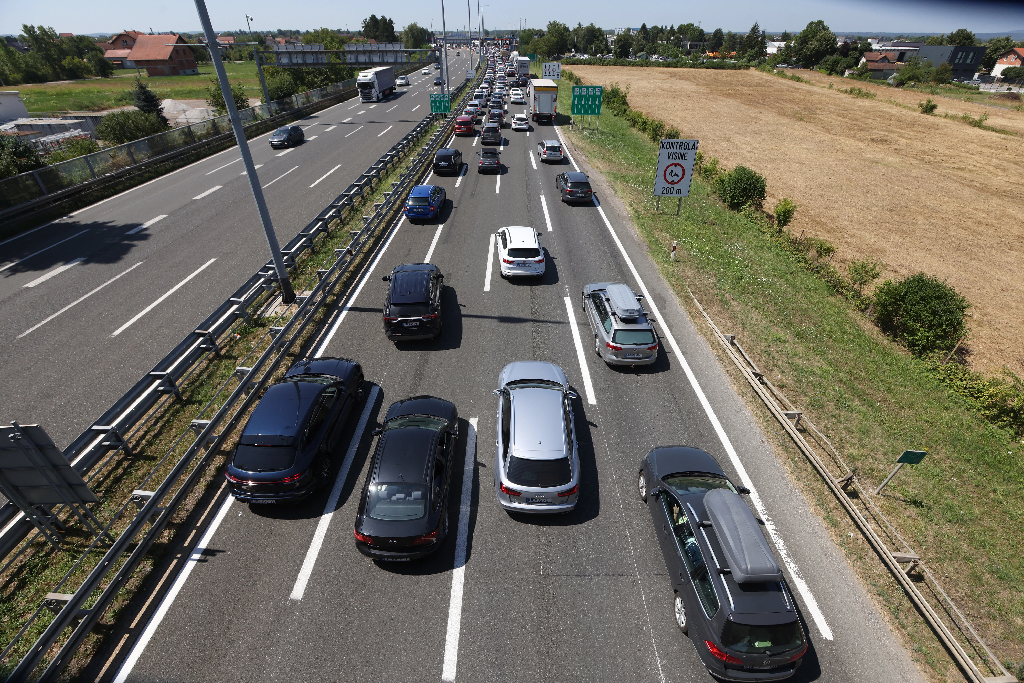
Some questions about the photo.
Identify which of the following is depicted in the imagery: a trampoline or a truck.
truck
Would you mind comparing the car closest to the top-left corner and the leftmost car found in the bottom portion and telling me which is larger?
the leftmost car found in the bottom portion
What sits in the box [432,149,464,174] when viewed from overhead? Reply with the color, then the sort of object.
black car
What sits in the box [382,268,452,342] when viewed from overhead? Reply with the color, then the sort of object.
black car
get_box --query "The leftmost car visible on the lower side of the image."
[219,360,366,506]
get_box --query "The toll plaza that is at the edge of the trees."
[432,33,521,47]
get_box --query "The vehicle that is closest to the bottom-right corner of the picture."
[632,446,817,683]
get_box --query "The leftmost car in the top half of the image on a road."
[275,124,311,148]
